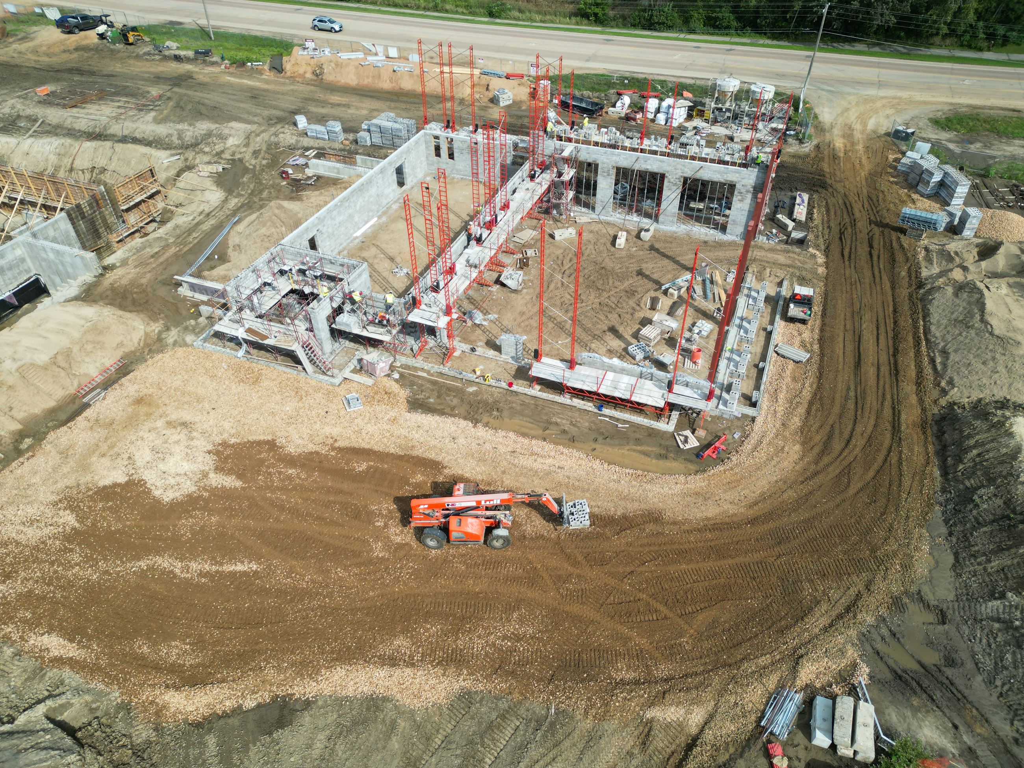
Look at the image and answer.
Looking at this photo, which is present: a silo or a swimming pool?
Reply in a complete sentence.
It is a silo that can be seen here.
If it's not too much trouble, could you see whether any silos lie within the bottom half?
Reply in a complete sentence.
No, no silo can be made out within the bottom half.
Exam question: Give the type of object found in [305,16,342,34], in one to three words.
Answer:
car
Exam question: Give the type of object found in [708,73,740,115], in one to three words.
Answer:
silo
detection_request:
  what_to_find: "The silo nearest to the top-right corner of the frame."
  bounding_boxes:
[744,75,777,117]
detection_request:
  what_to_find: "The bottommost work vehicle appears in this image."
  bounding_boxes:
[408,483,568,551]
